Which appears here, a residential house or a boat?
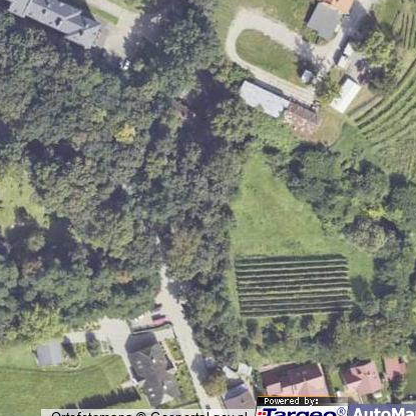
residential house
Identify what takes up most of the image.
trees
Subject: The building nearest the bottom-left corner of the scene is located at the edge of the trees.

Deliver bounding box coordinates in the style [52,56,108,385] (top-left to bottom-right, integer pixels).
[36,343,65,368]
